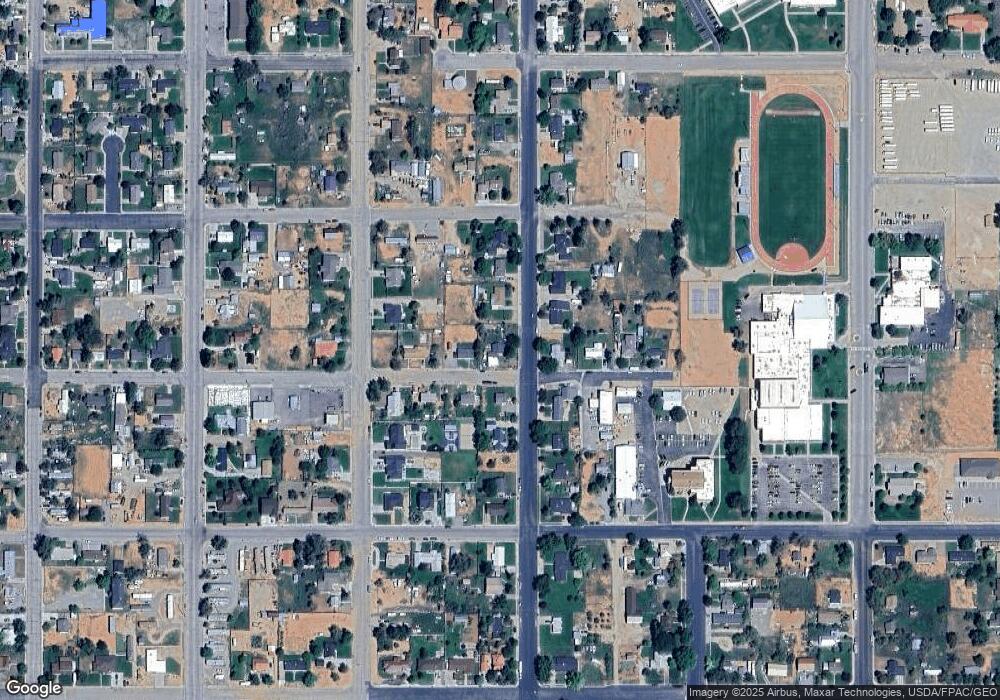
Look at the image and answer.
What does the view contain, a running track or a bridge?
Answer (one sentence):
The image shows a running track.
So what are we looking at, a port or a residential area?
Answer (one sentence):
What you see here is a residential area.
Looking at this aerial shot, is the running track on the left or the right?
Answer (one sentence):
The running track sits on the right side.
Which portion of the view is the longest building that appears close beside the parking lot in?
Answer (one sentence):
The longest building that appears close beside the parking lot sits in the right section of the image.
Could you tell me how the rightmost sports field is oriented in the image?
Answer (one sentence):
In this picture, the rightmost sports field is oriented from top to bottom.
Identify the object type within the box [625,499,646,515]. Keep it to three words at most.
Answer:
house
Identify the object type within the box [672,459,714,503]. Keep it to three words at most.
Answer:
building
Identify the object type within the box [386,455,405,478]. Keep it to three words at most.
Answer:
building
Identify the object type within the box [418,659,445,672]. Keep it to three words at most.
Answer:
house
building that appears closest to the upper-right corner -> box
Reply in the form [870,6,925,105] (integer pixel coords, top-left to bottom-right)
[948,14,988,31]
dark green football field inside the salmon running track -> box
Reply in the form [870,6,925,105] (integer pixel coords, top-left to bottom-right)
[760,94,825,259]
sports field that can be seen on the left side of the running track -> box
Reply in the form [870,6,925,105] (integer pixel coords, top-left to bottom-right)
[681,76,750,266]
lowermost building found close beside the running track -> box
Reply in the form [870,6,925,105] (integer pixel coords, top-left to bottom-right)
[751,294,835,440]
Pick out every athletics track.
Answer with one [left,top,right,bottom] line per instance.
[750,85,835,272]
